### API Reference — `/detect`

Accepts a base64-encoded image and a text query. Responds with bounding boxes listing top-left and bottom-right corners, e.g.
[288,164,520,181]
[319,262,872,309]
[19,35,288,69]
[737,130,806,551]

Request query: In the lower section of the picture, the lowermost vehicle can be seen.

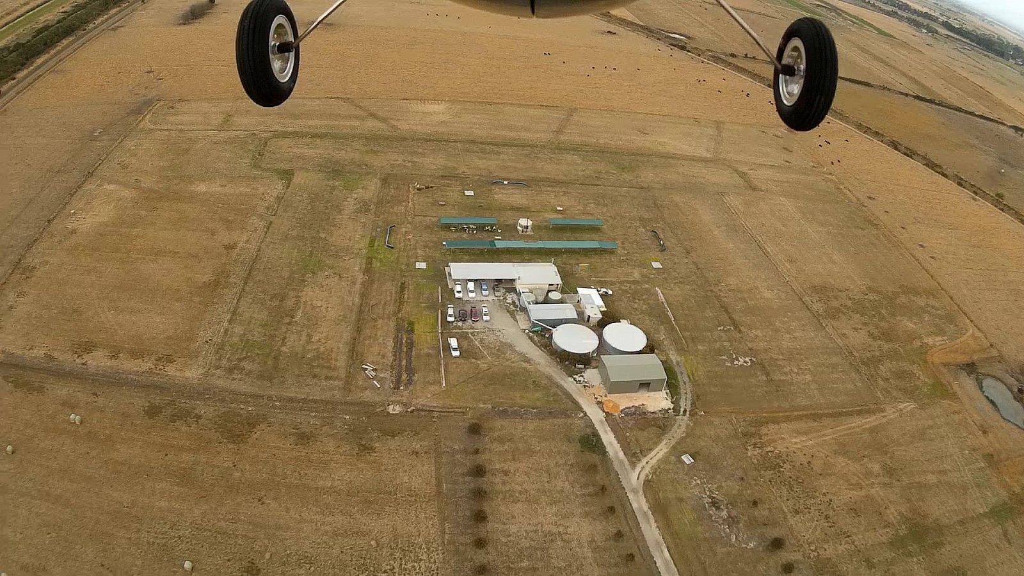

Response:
[448,337,461,359]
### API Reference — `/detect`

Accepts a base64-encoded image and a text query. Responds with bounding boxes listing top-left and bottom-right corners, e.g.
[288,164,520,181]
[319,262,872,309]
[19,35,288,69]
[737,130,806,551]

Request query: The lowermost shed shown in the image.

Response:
[600,354,667,393]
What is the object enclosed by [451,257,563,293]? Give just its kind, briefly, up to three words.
building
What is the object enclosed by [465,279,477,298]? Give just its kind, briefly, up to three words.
vehicle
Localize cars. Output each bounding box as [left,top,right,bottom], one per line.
[479,281,490,296]
[480,305,491,322]
[445,304,456,323]
[470,305,480,323]
[448,337,461,359]
[598,287,611,297]
[454,283,463,299]
[458,309,468,323]
[465,279,477,298]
